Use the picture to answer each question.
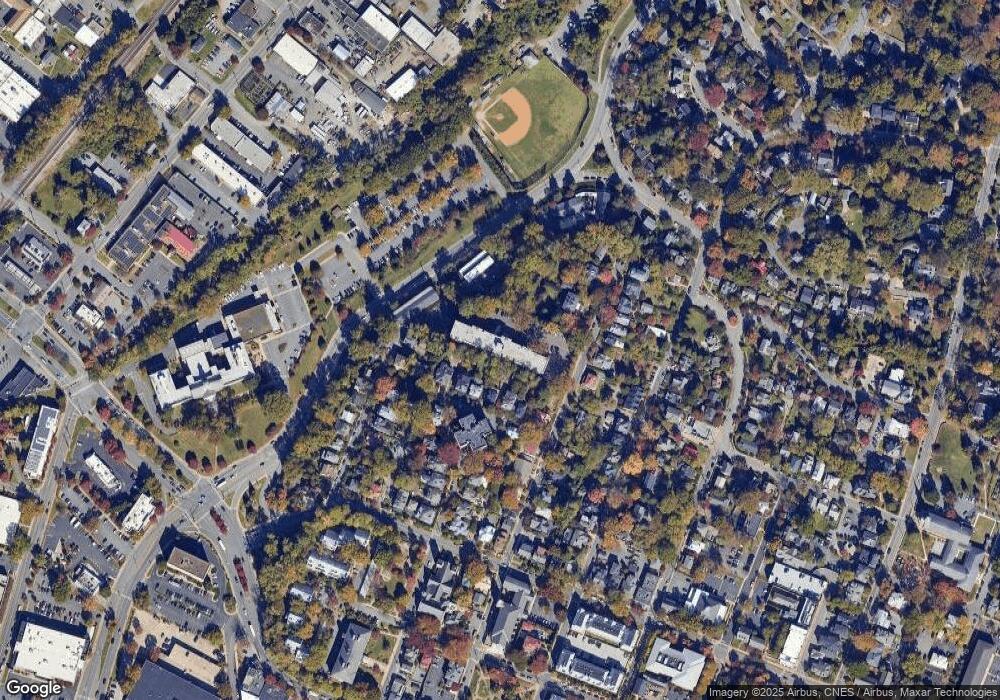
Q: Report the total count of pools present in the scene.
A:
0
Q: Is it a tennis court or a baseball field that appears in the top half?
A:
baseball field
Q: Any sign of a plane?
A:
No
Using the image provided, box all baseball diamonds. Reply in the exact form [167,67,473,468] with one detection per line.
[474,58,588,182]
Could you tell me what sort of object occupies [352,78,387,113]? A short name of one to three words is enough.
hangar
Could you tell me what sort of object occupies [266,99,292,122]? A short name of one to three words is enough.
shed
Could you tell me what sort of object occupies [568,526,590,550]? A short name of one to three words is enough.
house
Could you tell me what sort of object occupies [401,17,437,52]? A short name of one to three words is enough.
building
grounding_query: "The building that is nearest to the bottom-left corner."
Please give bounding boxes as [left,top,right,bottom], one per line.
[15,622,87,686]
